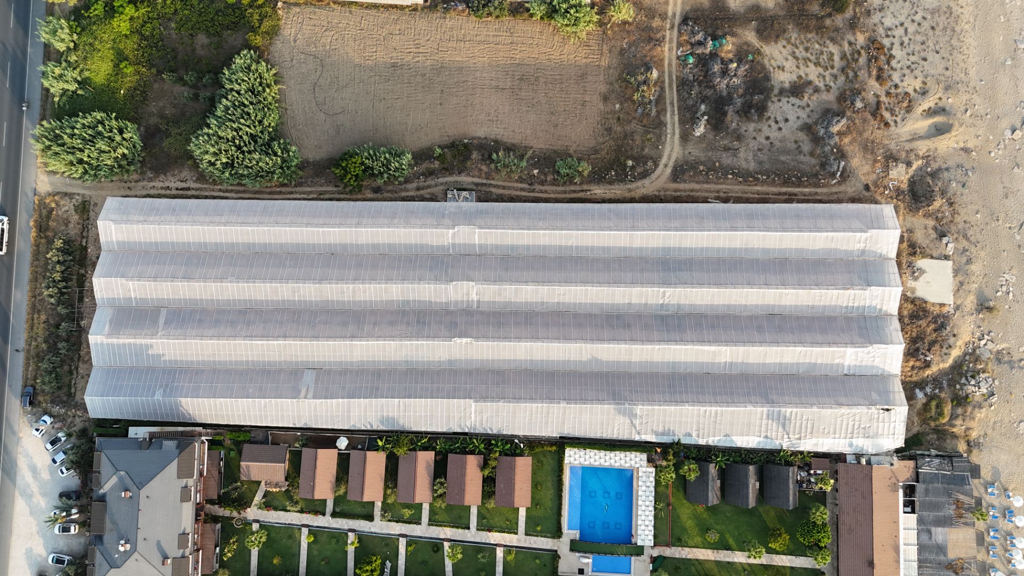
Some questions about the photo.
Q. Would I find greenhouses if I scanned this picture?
Yes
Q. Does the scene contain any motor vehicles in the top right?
No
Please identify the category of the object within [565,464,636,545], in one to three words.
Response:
swimming pool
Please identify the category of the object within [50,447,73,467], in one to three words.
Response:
car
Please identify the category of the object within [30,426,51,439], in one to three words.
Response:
vehicle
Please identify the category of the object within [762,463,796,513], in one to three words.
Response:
shed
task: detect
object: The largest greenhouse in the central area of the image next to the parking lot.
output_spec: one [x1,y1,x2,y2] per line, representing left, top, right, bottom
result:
[84,197,908,454]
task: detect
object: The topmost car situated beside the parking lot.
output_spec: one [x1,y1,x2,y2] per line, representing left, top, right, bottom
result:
[21,385,36,409]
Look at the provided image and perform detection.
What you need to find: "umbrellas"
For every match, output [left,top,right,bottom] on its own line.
[336,437,348,449]
[1010,495,1023,506]
[1007,548,1021,558]
[1009,558,1024,570]
[1010,536,1024,548]
[1013,515,1024,526]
